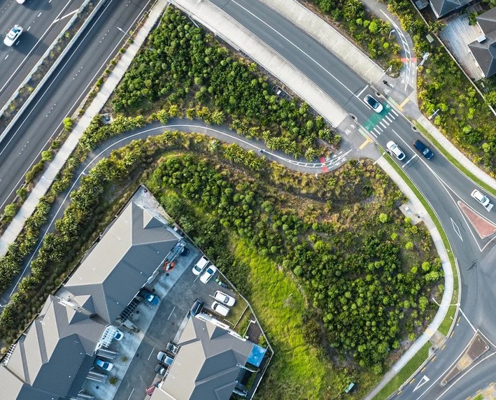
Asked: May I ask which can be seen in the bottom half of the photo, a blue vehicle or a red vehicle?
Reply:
blue vehicle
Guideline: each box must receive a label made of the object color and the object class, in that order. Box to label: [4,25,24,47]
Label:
white car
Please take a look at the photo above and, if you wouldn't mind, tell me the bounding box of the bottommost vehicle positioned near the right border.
[470,188,493,212]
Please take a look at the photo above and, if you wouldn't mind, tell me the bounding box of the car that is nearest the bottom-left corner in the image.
[92,357,117,373]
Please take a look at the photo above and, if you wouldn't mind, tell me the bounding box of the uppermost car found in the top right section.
[363,93,383,115]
